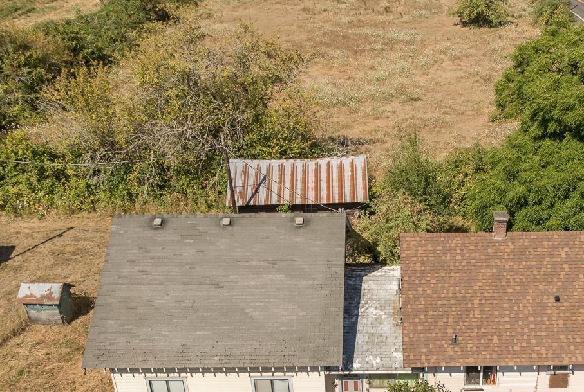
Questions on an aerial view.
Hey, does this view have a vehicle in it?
No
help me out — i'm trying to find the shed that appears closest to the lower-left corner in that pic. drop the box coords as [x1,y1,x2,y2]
[15,281,74,323]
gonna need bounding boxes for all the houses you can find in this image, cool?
[83,207,356,392]
[400,210,584,392]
